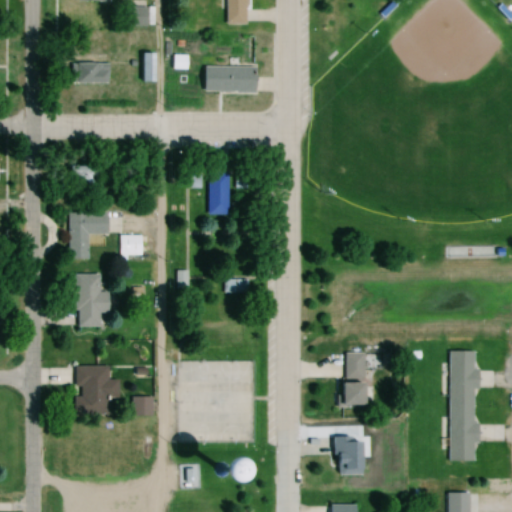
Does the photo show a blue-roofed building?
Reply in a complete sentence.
Yes, the picture does show a blue-roofed building.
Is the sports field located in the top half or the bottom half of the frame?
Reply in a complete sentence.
You can find the sports field in the top half.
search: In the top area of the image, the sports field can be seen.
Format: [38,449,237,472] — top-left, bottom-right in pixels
[308,0,512,224]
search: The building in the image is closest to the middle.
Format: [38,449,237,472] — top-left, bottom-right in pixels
[223,278,250,294]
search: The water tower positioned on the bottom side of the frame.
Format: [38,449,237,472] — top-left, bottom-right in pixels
[213,458,258,484]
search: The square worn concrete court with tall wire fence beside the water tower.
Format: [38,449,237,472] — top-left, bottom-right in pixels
[176,362,251,442]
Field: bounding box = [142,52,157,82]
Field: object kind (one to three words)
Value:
shed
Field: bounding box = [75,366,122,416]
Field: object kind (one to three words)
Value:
house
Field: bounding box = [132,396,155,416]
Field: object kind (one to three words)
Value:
building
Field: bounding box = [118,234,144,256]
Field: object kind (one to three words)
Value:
building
